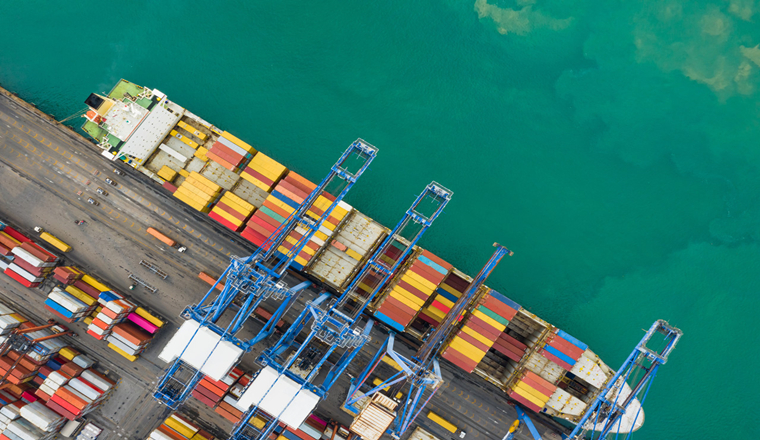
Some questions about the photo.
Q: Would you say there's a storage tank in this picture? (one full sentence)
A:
No, no storage tank is visible in the view.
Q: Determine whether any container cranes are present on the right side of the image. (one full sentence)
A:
Yes, a container crane is visible on the right side of the image.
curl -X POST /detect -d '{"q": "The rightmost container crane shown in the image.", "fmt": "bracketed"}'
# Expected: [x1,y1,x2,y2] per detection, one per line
[499,323,686,440]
